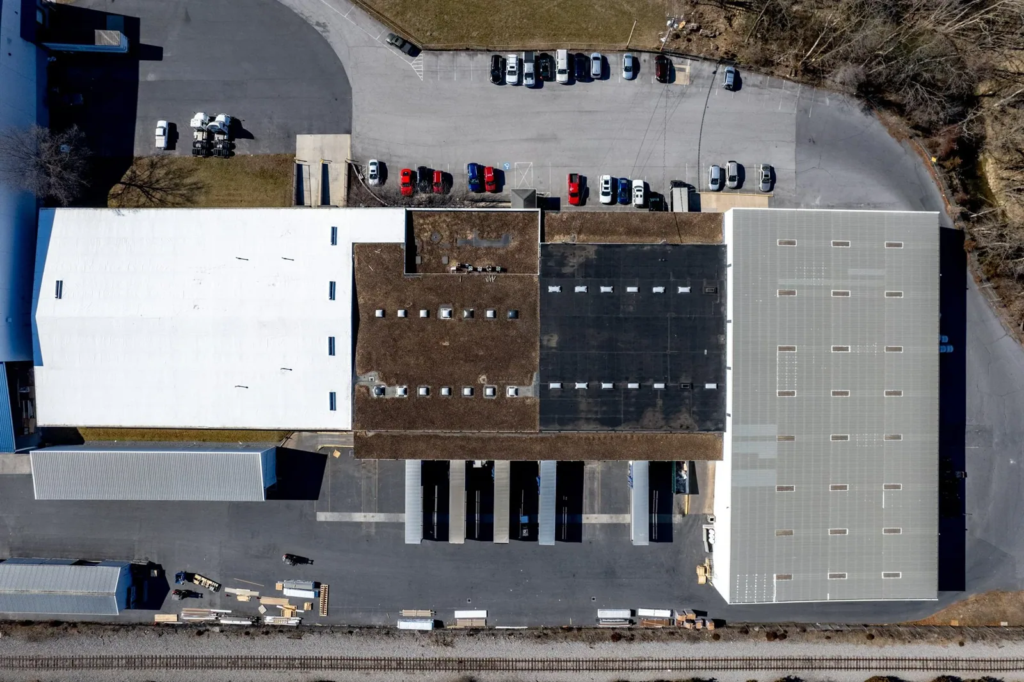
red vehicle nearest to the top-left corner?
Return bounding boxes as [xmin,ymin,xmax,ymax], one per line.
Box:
[400,168,413,197]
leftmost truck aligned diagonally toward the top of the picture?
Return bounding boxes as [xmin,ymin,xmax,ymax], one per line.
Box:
[386,31,421,60]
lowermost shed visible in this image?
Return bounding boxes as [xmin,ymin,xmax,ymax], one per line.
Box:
[0,559,132,616]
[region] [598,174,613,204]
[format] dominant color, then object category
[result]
white car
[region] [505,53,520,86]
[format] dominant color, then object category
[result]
white car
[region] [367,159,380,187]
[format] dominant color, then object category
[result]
white vehicle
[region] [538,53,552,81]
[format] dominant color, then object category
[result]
black car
